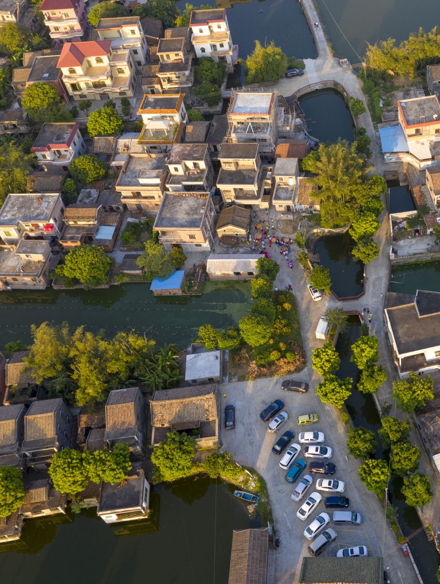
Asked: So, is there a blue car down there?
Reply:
Yes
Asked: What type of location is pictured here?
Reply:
residential area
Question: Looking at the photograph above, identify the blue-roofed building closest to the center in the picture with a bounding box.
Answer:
[152,268,187,305]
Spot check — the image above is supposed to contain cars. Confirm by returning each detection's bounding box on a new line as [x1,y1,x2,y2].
[259,400,285,421]
[303,445,333,460]
[296,493,324,521]
[278,444,303,470]
[285,68,305,79]
[299,431,325,444]
[308,461,337,476]
[332,510,363,525]
[297,413,319,427]
[282,382,309,394]
[306,285,323,302]
[265,412,290,434]
[271,431,297,456]
[222,406,236,431]
[283,458,308,485]
[303,512,332,541]
[290,475,315,503]
[337,545,368,558]
[315,479,345,493]
[307,528,338,556]
[324,494,351,510]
